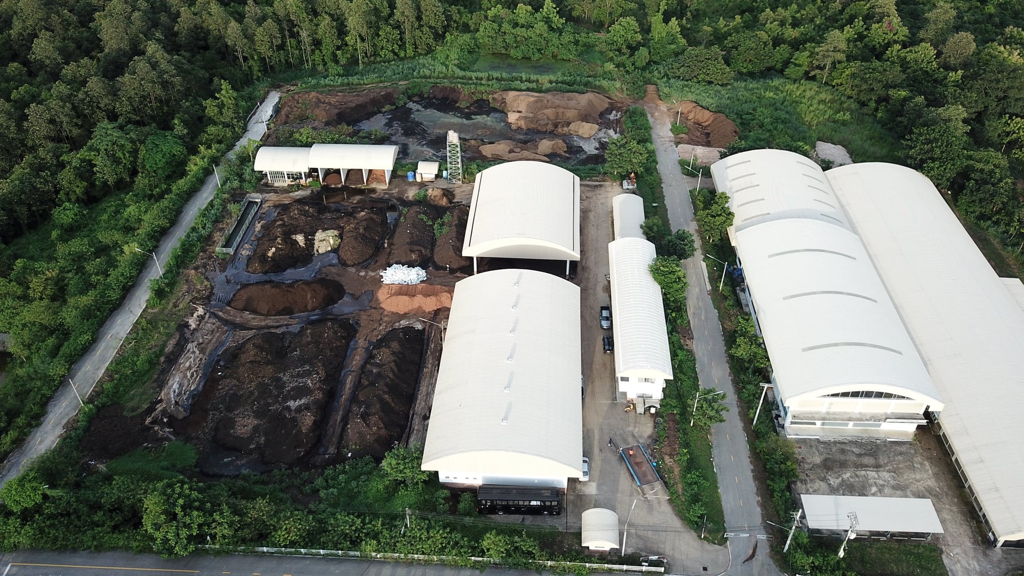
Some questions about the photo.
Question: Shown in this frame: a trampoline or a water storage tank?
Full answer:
Of the two, only a water storage tank appears.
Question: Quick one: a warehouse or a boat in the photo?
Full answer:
I can see a warehouse in this picture.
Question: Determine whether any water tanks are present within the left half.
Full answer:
Yes, you'll find a water tank within the left half.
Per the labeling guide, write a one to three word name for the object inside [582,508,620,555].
building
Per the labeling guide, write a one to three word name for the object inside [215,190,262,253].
water tank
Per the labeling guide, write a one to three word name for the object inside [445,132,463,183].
water tower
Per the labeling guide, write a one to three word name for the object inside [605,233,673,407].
house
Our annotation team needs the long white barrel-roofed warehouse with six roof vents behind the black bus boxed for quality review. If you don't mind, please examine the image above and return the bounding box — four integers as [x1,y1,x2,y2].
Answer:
[421,263,584,495]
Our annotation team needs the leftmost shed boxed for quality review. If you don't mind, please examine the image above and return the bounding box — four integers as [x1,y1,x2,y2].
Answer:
[250,147,314,187]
